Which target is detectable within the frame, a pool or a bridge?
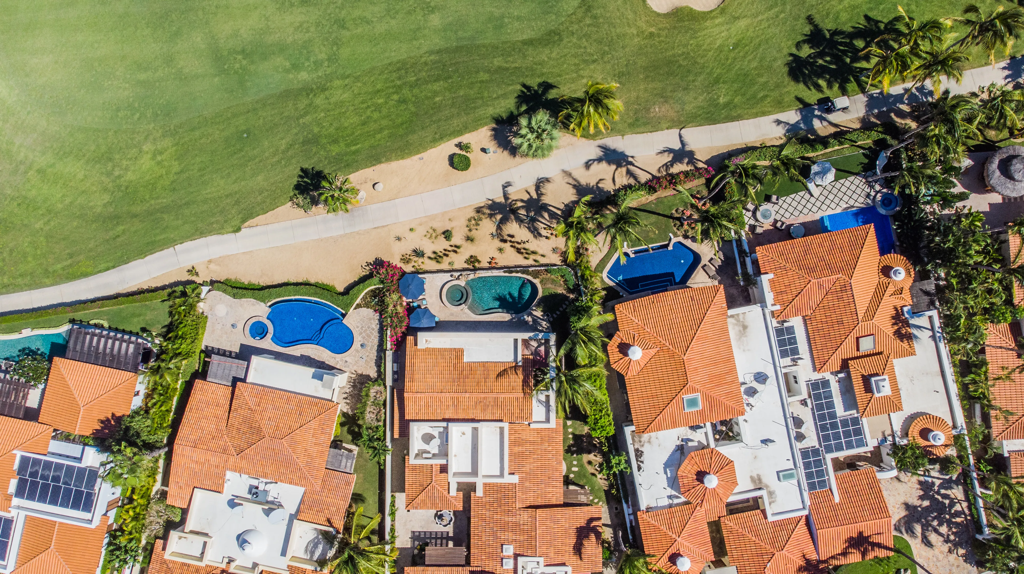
pool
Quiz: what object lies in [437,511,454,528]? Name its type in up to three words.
fountain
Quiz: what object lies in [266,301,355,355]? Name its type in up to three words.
swimming pool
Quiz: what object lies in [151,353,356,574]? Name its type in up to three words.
house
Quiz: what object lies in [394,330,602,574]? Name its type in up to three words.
house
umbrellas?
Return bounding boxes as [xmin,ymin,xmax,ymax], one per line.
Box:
[409,306,436,332]
[398,274,425,300]
[810,161,836,186]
